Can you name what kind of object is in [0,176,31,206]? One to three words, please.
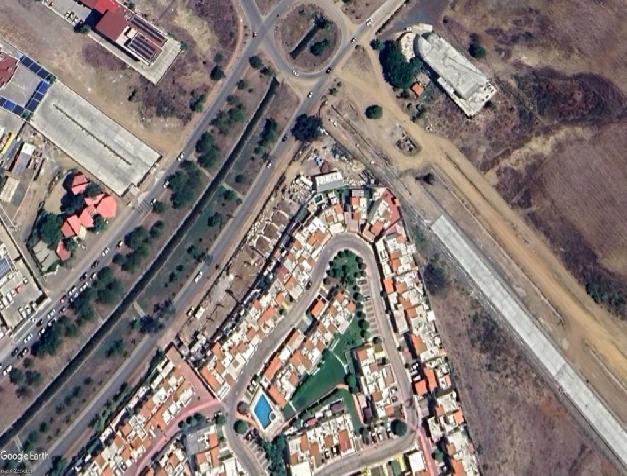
shed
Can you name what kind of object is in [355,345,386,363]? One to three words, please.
house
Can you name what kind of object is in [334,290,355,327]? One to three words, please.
house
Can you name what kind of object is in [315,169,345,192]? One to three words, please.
shed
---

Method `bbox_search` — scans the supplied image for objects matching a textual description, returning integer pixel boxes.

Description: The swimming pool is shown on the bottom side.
[249,388,285,436]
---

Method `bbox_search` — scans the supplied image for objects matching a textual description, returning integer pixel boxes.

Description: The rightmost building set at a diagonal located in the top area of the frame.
[421,37,487,98]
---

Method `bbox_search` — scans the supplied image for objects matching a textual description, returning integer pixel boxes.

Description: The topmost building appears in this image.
[80,0,168,61]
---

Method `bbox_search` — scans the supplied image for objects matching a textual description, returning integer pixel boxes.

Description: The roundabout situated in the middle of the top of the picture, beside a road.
[268,0,351,81]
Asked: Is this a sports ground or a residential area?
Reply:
residential area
